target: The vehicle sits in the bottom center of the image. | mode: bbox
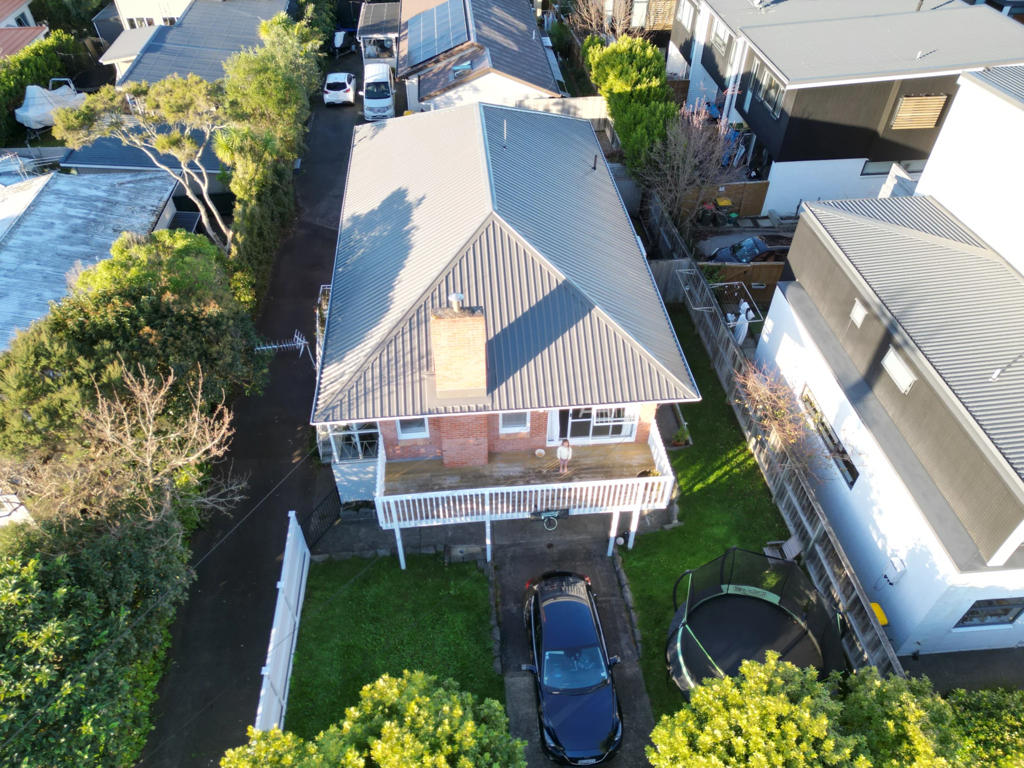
[522,563,627,768]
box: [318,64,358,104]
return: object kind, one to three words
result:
car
